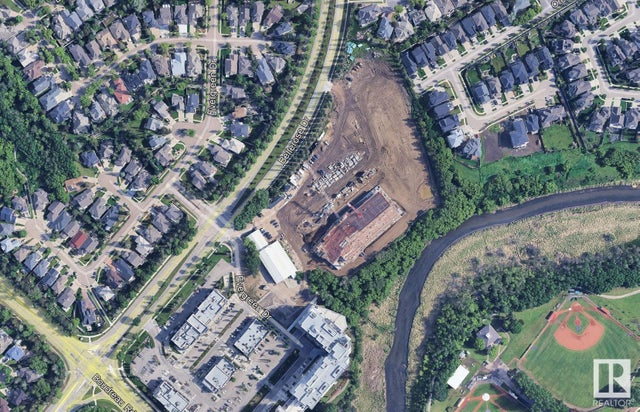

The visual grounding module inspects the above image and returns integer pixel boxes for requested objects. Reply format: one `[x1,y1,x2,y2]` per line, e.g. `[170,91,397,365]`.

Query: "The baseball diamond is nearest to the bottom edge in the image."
[454,382,526,412]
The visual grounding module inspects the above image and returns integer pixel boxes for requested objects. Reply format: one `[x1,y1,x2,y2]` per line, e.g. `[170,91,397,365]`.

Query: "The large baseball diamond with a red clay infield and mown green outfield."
[519,293,640,410]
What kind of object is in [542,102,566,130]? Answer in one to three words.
house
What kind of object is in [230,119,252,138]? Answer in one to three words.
house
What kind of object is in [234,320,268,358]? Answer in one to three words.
building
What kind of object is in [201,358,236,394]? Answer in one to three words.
building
